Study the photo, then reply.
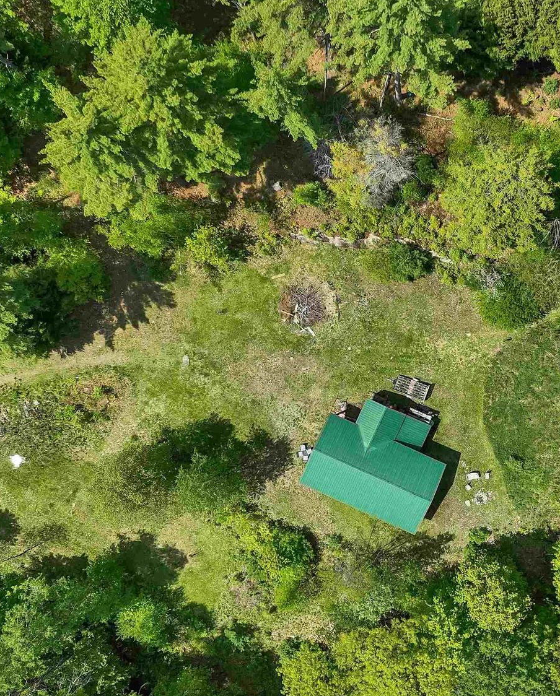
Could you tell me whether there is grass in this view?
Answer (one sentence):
Yes, some grass is visible.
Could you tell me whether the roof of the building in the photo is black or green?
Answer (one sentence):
The roof of the building is green.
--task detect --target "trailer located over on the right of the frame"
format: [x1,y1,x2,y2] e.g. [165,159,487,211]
[386,376,431,401]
